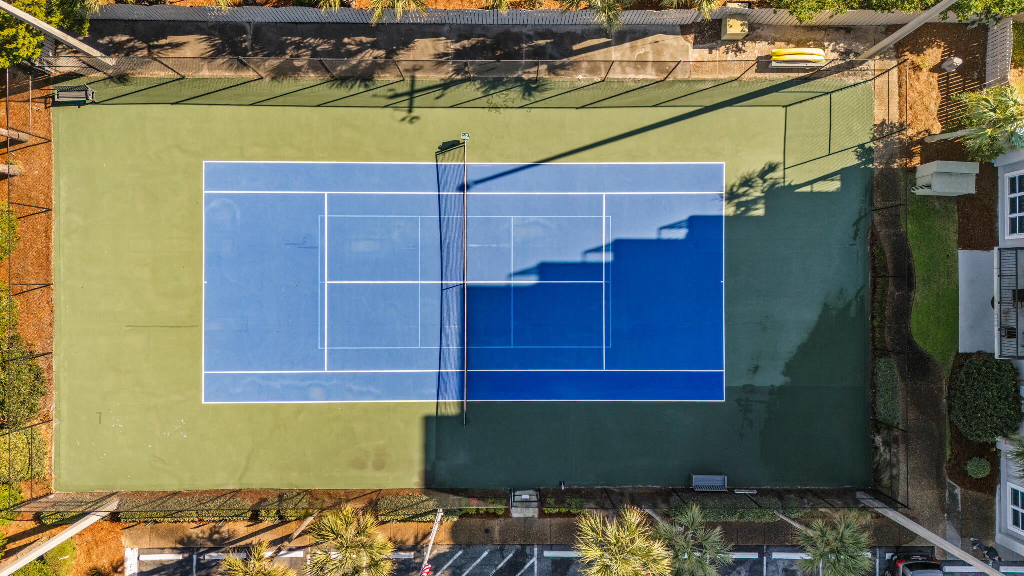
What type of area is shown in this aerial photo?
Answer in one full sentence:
What you see here is a sports ground.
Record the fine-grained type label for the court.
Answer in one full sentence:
Specifically, the court is a tennis court.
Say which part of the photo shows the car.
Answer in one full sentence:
The car appears toward the bottom right of the photo.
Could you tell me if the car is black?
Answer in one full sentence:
Yes, the car is indeed black.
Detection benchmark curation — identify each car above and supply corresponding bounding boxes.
[888,550,940,576]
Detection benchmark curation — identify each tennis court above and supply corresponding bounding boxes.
[52,78,873,492]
